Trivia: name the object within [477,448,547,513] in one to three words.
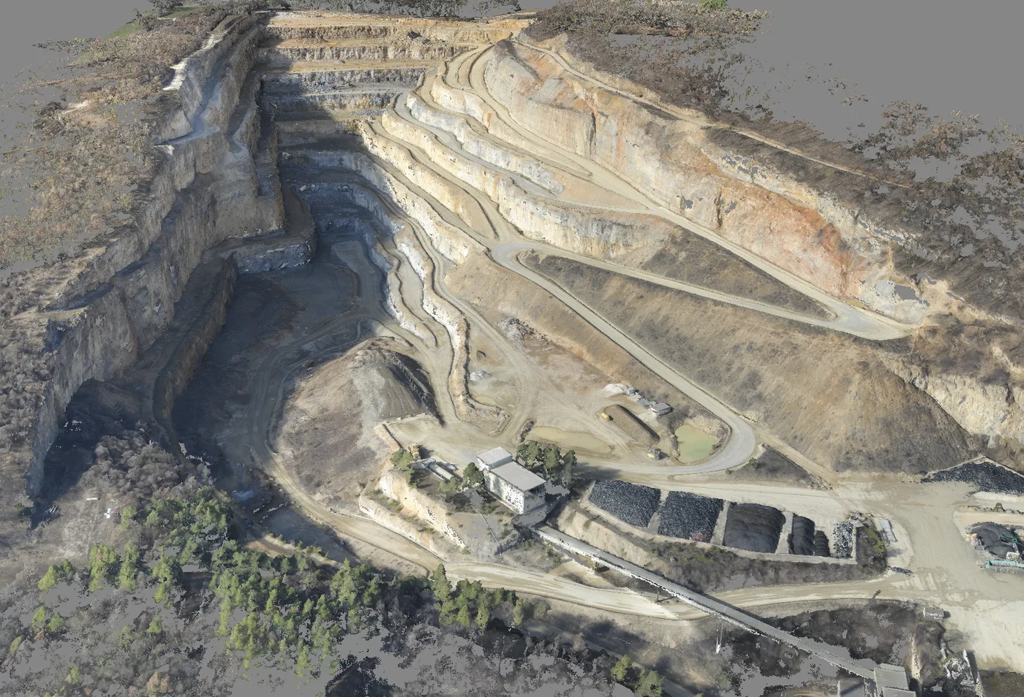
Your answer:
building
